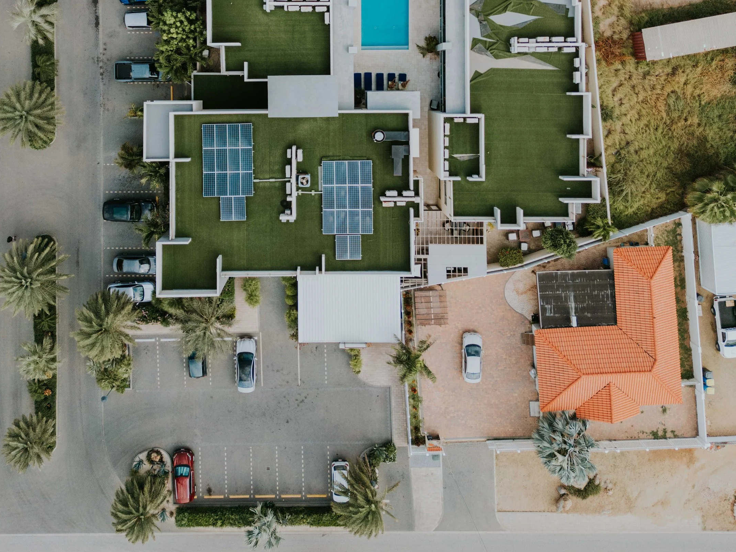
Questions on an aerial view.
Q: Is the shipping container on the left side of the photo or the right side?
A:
right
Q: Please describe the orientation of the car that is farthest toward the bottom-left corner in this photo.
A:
from top to bottom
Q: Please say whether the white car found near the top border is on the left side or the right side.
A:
left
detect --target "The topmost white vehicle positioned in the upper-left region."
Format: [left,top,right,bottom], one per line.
[126,10,149,30]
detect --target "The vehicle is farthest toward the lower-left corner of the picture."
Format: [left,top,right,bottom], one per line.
[170,447,196,503]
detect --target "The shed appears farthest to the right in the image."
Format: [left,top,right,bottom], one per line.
[696,215,736,295]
